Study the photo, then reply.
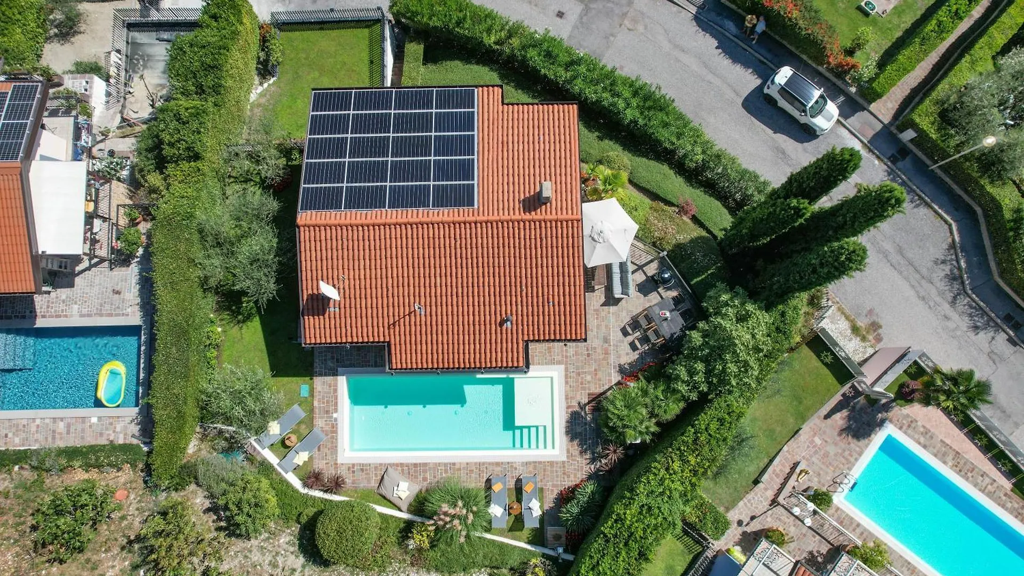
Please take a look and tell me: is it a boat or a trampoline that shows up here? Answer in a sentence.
There is a boat in the scene.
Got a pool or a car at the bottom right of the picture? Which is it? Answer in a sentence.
Looking at the bottom right of the picture, you will find a pool.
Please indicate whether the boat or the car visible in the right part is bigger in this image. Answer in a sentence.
Compared with the boat, the car is the larger one.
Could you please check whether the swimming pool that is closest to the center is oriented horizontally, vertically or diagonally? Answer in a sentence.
The swimming pool that is closest to the center has been laid out horizontally relative to the frame.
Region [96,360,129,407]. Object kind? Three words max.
boat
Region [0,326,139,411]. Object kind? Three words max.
swimming pool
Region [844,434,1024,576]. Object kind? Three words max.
swimming pool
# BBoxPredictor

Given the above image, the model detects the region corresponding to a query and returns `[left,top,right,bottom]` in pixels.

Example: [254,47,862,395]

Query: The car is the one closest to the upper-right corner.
[757,65,844,143]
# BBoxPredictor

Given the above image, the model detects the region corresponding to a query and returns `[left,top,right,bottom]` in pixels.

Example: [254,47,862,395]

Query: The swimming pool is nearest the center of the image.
[349,375,554,452]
